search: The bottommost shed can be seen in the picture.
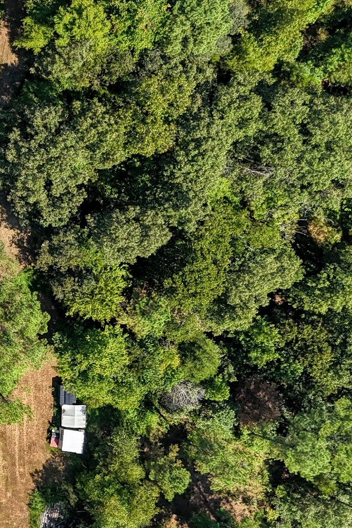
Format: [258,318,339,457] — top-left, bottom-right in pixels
[56,426,85,455]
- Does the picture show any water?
No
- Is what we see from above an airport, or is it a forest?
forest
